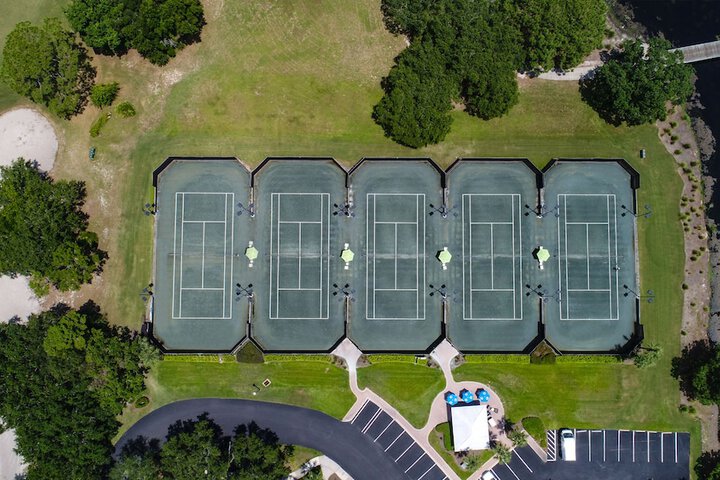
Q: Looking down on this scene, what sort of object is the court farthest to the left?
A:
tennis court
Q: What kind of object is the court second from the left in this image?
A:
tennis court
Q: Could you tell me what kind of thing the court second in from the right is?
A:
tennis court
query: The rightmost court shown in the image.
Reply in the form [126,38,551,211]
[539,162,638,353]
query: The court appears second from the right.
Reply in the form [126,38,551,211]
[444,161,541,353]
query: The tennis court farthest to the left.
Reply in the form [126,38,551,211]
[153,160,252,353]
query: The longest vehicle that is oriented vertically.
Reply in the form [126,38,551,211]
[562,429,577,463]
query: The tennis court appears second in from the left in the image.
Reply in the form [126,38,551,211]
[250,160,348,353]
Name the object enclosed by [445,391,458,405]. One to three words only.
umbrella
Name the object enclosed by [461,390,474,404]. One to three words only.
umbrella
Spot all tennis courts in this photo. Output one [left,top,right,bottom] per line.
[347,161,444,353]
[444,161,541,353]
[153,160,252,353]
[539,162,638,353]
[250,160,348,353]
